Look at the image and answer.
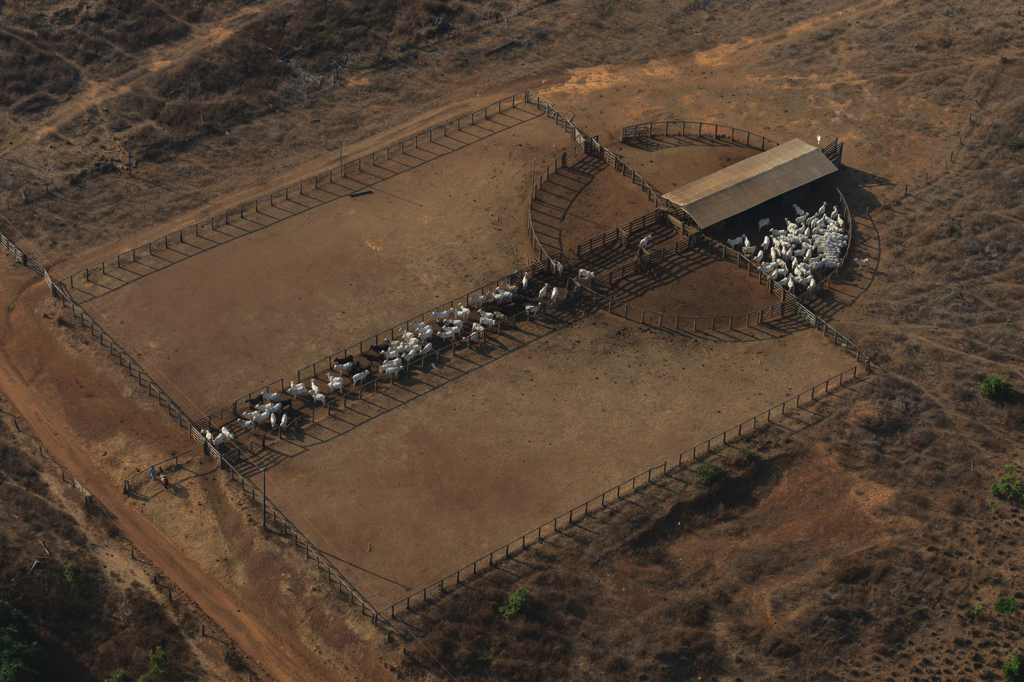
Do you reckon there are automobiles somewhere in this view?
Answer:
No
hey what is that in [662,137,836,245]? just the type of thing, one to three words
shed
